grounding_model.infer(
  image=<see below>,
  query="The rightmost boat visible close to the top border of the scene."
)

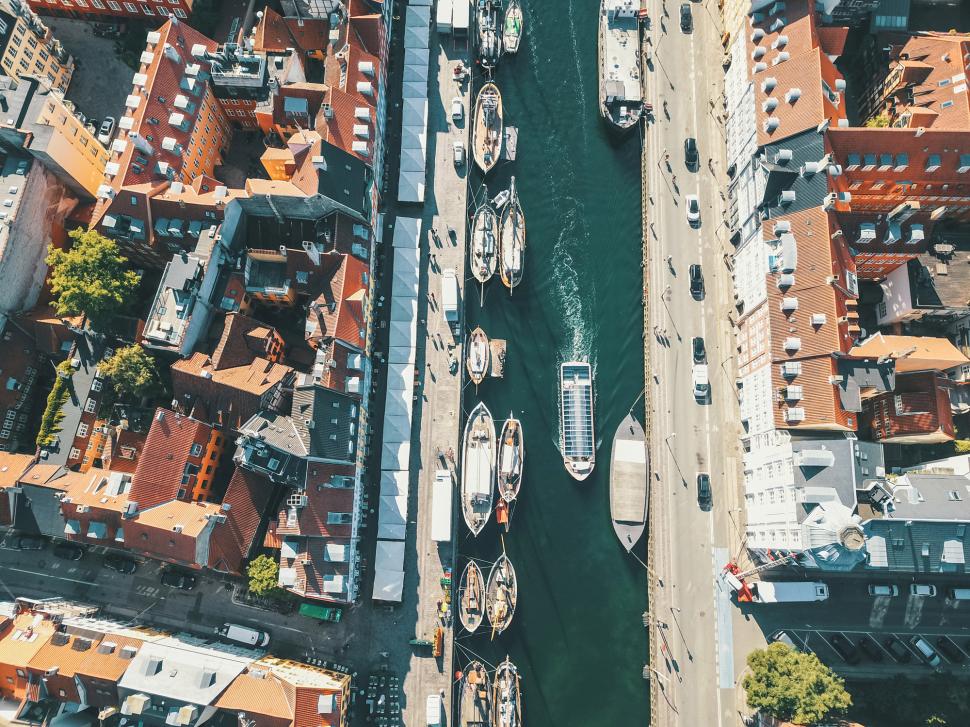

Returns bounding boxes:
[600,0,650,134]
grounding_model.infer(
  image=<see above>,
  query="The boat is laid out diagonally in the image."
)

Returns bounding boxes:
[493,192,508,212]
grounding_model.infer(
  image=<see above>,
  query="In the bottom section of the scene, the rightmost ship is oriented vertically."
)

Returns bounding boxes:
[610,411,650,554]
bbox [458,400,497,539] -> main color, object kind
white boat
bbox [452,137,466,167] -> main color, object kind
white vehicle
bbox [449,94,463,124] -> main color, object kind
white vehicle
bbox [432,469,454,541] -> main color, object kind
white truck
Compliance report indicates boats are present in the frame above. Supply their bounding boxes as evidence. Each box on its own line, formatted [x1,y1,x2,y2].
[495,498,508,526]
[466,321,490,397]
[503,0,523,58]
[474,77,503,177]
[493,651,522,727]
[468,178,498,302]
[498,168,526,293]
[496,409,525,524]
[458,560,485,634]
[475,0,503,77]
[487,533,518,644]
[458,400,497,539]
[493,192,508,212]
[558,359,596,481]
[600,0,650,134]
[457,659,492,727]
